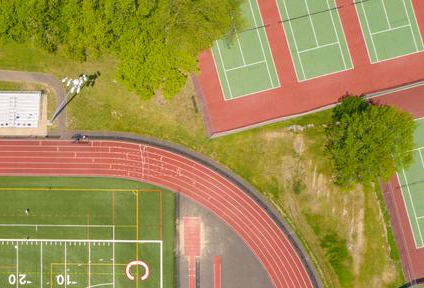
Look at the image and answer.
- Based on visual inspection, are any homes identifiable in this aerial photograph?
No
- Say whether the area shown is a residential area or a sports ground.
sports ground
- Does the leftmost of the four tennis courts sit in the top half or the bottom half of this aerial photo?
top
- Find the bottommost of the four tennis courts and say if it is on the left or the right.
right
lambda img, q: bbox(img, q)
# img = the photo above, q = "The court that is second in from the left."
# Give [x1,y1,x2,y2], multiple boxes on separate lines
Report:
[277,0,355,82]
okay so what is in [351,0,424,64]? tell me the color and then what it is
green tennis court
